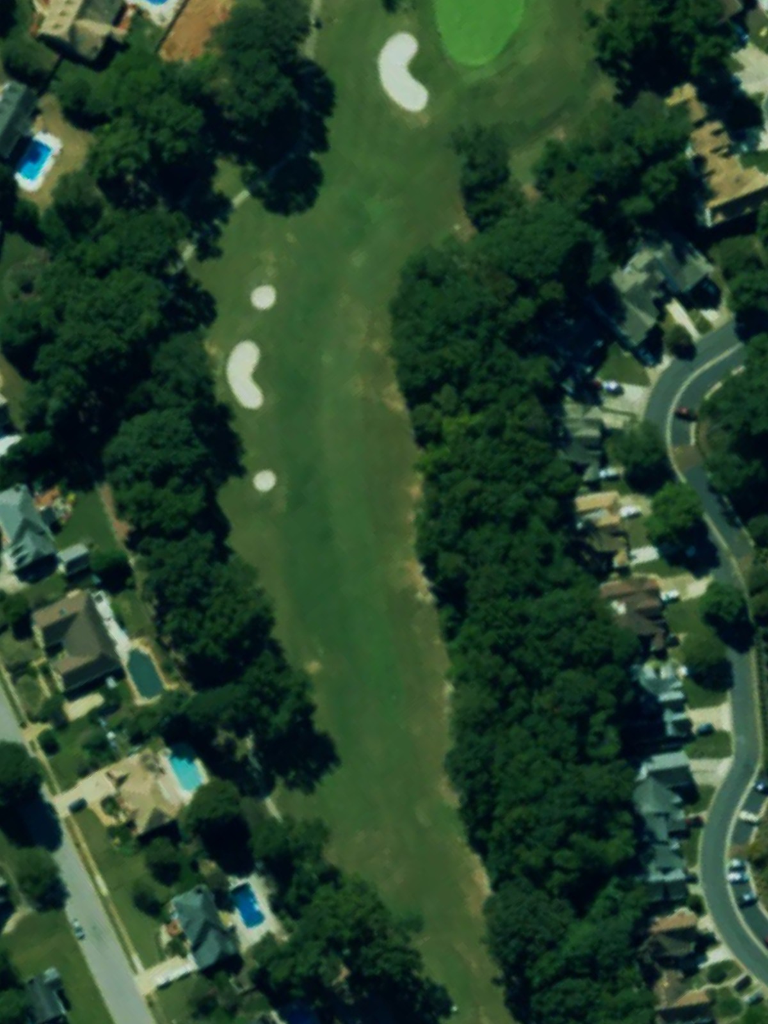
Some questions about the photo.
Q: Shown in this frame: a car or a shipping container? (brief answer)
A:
car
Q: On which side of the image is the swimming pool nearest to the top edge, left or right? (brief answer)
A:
left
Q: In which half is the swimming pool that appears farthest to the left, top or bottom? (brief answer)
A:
top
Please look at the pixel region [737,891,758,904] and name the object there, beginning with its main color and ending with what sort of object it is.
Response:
blue vehicle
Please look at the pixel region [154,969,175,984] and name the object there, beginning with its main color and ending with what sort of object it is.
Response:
white car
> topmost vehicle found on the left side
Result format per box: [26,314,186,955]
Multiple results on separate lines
[67,797,88,813]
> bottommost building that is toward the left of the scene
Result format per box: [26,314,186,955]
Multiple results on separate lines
[25,969,70,1024]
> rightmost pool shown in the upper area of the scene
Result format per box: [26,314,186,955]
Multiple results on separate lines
[129,0,181,26]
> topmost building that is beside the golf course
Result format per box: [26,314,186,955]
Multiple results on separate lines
[664,81,768,222]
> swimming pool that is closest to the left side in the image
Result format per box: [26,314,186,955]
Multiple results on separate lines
[12,131,63,190]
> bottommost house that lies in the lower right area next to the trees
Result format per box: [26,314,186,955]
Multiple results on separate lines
[653,970,718,1024]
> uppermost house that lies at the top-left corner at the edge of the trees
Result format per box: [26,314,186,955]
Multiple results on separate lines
[40,0,117,60]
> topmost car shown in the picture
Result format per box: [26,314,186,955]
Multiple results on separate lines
[735,25,750,44]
